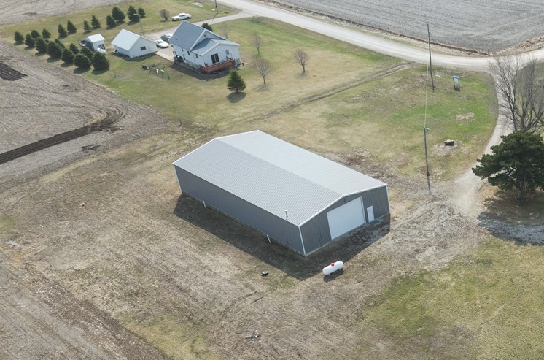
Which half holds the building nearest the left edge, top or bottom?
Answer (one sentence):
The building nearest the left edge is in the top half of the image.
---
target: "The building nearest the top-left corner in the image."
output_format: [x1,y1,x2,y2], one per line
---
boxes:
[80,30,107,51]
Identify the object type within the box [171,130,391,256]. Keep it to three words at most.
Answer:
shed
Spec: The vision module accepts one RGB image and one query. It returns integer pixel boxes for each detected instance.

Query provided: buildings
[80,30,107,51]
[108,28,159,59]
[167,21,241,76]
[171,130,391,256]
